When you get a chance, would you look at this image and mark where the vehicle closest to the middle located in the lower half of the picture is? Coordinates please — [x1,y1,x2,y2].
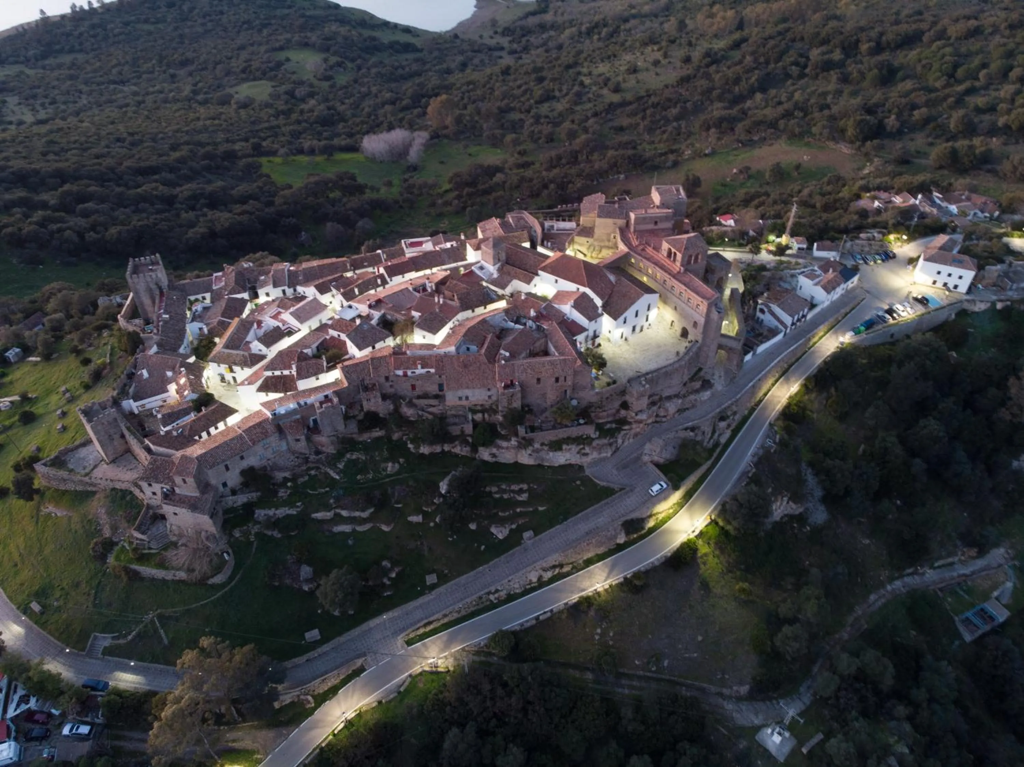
[650,482,668,495]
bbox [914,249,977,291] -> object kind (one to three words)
house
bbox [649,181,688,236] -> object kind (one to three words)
building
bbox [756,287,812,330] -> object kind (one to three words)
house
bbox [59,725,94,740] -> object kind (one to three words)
car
